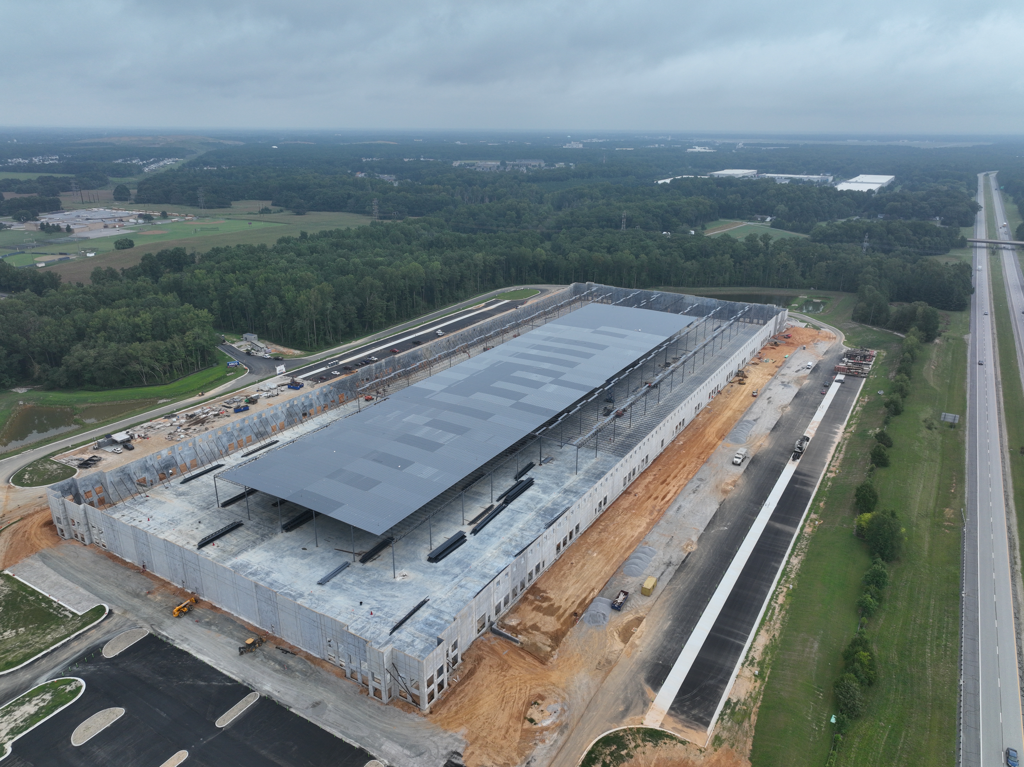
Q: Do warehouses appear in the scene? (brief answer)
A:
Yes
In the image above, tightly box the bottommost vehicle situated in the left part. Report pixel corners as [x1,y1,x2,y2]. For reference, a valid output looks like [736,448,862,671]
[234,636,270,658]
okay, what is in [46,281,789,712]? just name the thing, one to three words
warehouse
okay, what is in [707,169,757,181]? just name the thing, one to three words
building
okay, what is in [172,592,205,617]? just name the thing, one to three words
work vehicle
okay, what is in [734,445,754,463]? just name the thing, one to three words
vehicle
